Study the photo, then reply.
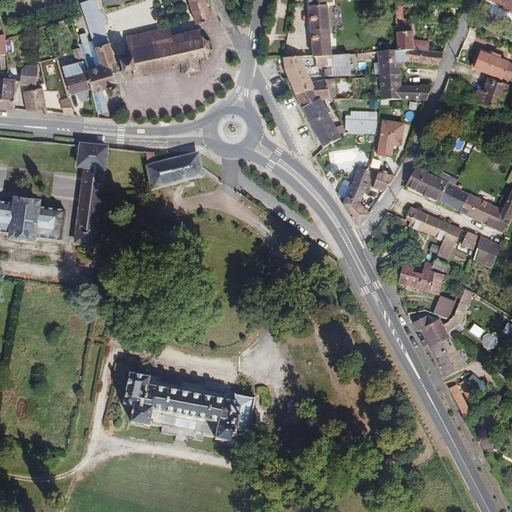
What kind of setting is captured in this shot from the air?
residential area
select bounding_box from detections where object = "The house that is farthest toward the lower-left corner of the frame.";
[122,372,254,445]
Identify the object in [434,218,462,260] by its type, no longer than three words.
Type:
house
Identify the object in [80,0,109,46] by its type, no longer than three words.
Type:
barn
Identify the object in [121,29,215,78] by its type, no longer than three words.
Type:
building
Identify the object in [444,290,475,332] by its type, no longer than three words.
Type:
shed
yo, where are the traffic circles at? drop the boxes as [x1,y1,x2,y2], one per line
[218,114,248,144]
